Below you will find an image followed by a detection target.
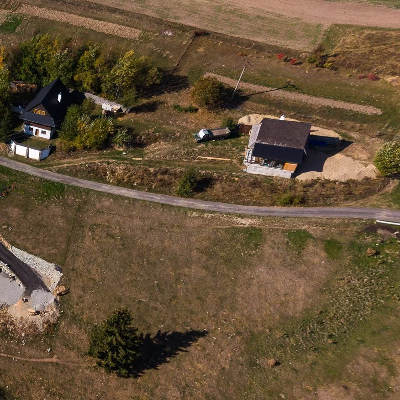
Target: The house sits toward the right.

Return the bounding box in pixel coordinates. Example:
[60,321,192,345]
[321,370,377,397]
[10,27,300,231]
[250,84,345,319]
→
[242,109,308,174]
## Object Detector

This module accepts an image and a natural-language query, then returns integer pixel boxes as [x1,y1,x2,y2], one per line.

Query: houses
[242,109,308,174]
[18,76,71,136]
